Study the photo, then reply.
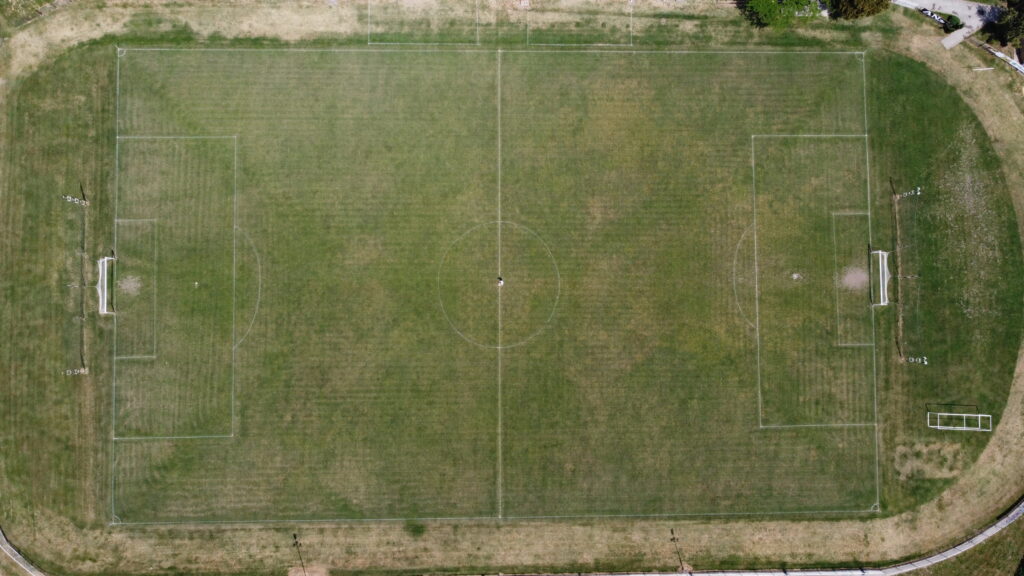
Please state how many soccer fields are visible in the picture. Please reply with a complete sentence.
In total, there is 1 soccer field in the scene.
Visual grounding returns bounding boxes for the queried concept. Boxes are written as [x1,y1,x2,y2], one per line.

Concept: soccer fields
[110,11,881,524]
